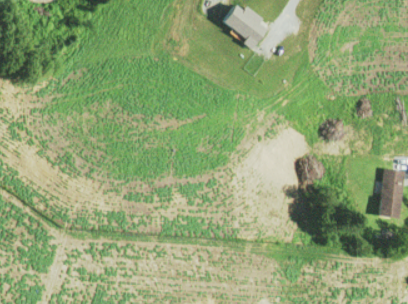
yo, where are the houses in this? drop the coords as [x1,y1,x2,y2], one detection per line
[372,168,406,220]
[223,4,269,53]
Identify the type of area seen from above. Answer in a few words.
farmland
